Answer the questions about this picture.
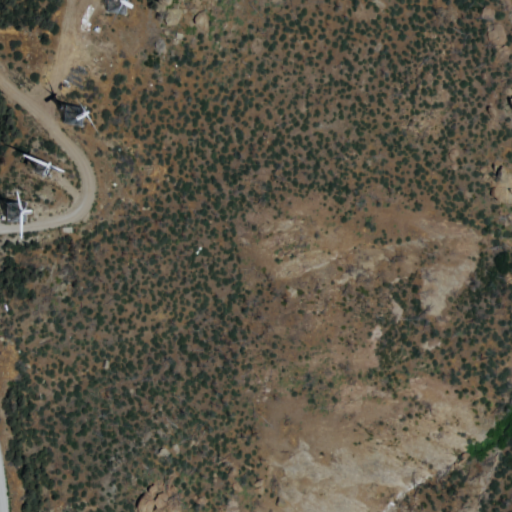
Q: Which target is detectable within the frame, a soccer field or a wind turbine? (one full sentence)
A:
The image shows a wind turbine.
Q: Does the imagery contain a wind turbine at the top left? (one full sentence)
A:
Yes, looking at the top left, one can make out a wind turbine.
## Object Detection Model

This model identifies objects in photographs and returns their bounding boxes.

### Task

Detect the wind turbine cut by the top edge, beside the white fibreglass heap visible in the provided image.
[108,0,135,24]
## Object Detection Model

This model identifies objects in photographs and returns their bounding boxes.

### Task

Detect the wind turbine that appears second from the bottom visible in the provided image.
[24,153,64,178]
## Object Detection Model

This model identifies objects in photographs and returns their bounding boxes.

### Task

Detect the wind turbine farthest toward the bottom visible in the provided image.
[8,188,34,237]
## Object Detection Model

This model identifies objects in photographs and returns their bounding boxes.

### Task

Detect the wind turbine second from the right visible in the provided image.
[64,98,100,137]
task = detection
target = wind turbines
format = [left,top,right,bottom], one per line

[64,98,100,137]
[108,0,135,24]
[24,153,64,178]
[8,188,34,237]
